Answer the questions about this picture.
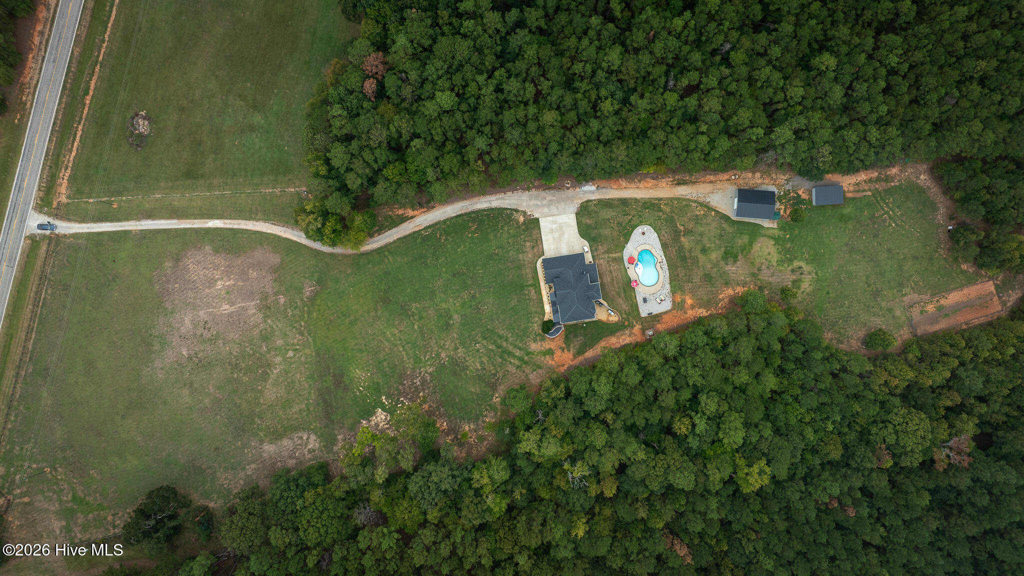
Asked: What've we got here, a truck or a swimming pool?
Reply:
swimming pool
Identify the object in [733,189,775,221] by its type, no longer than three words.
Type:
building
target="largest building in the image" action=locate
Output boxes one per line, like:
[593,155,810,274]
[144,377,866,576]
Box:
[542,252,602,324]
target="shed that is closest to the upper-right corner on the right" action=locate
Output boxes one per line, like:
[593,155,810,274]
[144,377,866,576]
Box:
[811,185,843,206]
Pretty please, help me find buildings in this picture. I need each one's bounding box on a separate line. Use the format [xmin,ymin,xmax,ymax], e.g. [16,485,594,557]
[811,185,843,206]
[733,189,775,221]
[542,252,602,324]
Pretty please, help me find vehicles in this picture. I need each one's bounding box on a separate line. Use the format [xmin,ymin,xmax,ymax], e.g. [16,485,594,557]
[33,220,55,231]
[582,245,589,253]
